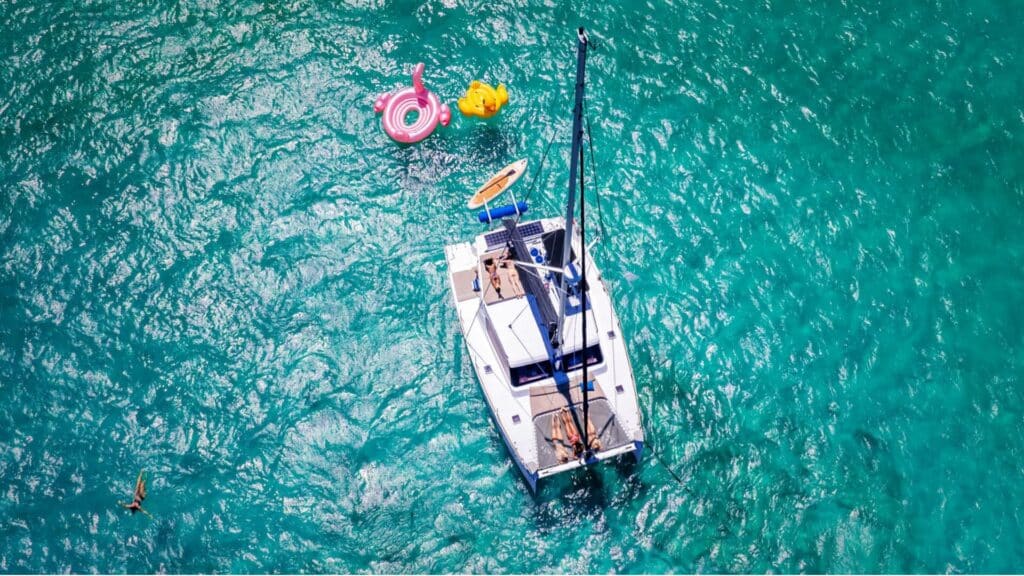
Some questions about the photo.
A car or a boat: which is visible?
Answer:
boat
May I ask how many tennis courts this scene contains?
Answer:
0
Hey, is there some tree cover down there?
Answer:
No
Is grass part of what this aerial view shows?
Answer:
No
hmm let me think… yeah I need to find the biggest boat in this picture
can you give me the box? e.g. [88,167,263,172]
[445,24,648,490]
